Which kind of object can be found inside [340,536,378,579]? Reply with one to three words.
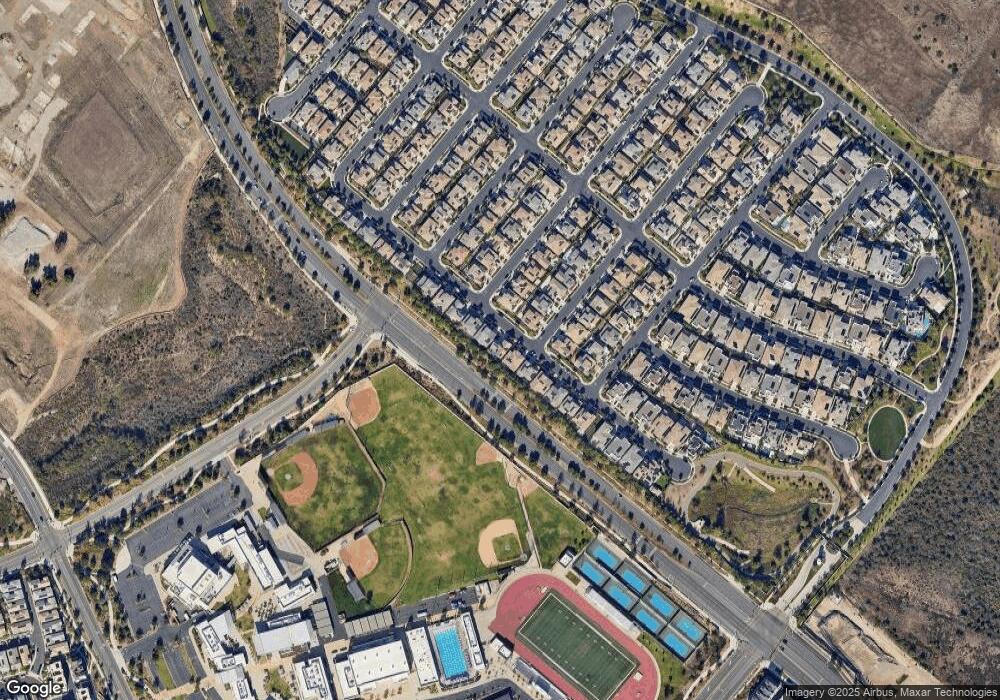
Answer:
baseball field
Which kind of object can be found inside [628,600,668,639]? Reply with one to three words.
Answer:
tennis court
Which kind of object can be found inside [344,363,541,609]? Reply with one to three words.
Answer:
sports field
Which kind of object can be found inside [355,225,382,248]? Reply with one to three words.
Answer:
house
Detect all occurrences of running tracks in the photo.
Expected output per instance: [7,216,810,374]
[494,575,660,700]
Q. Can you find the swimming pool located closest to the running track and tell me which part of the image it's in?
bottom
